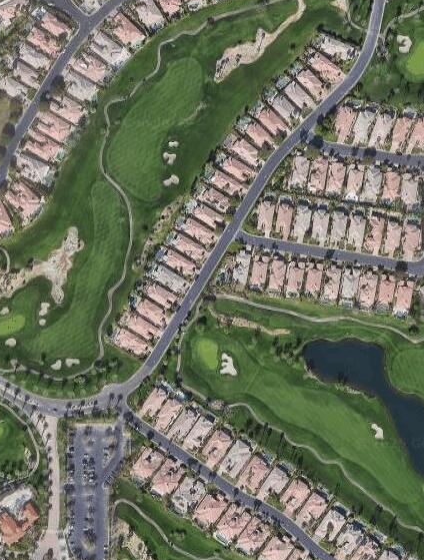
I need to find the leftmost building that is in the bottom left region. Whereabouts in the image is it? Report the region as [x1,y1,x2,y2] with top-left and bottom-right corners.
[0,505,41,545]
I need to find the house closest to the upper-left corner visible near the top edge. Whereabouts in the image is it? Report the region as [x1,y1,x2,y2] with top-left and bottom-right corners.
[0,0,29,24]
